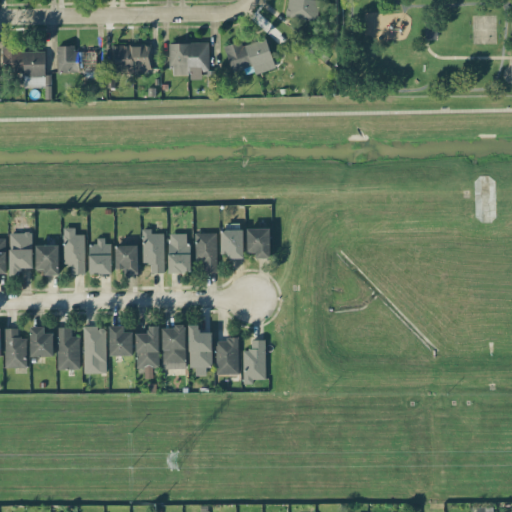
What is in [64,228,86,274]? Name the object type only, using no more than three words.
house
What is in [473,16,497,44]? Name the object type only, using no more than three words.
basketball court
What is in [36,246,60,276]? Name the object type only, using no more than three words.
house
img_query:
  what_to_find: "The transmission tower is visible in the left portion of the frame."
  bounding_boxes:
[166,450,180,470]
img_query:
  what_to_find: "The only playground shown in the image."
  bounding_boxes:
[364,12,412,41]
